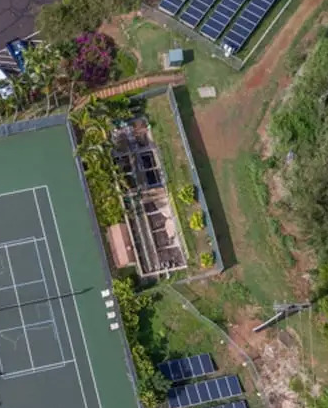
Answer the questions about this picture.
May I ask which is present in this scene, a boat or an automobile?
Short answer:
automobile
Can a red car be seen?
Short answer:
No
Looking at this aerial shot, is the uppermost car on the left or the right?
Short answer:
left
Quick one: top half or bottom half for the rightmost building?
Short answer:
top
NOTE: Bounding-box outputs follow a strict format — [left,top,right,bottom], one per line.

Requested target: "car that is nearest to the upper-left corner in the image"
[4,33,31,73]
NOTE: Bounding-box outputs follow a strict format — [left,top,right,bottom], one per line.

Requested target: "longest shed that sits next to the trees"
[106,224,135,269]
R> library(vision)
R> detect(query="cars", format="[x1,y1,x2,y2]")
[0,70,13,100]
[4,33,31,73]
